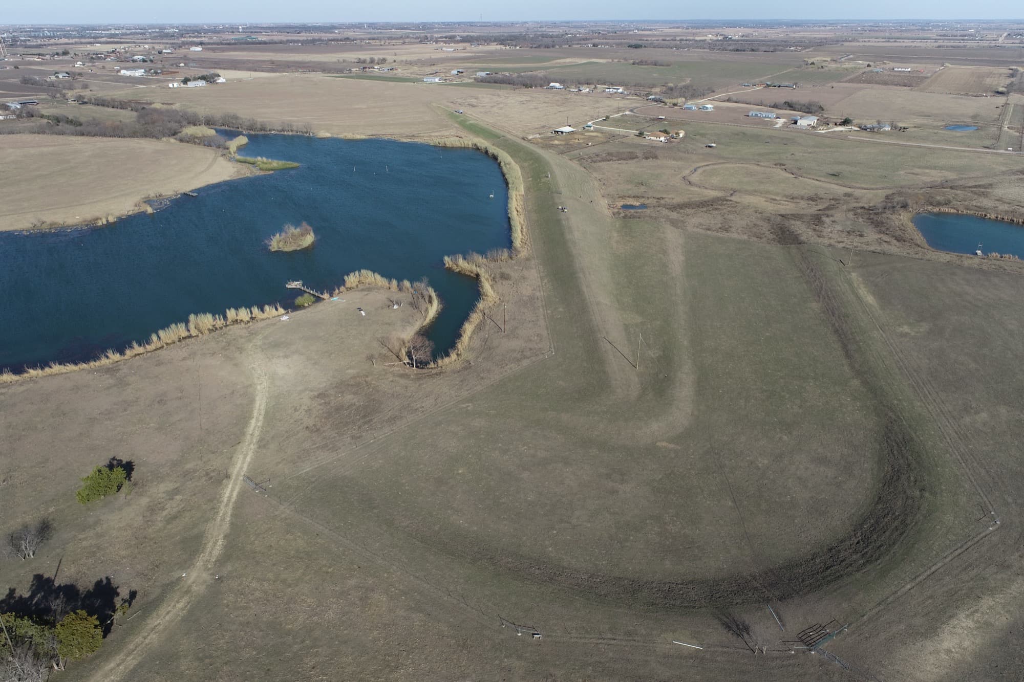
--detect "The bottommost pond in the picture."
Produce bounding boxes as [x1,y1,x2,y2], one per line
[914,213,1024,259]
